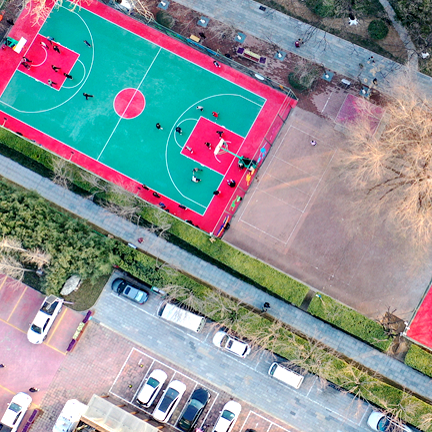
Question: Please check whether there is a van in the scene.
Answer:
Yes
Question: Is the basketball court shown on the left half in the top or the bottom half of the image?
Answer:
top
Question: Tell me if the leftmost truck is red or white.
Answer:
white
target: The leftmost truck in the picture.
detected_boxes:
[0,392,33,432]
